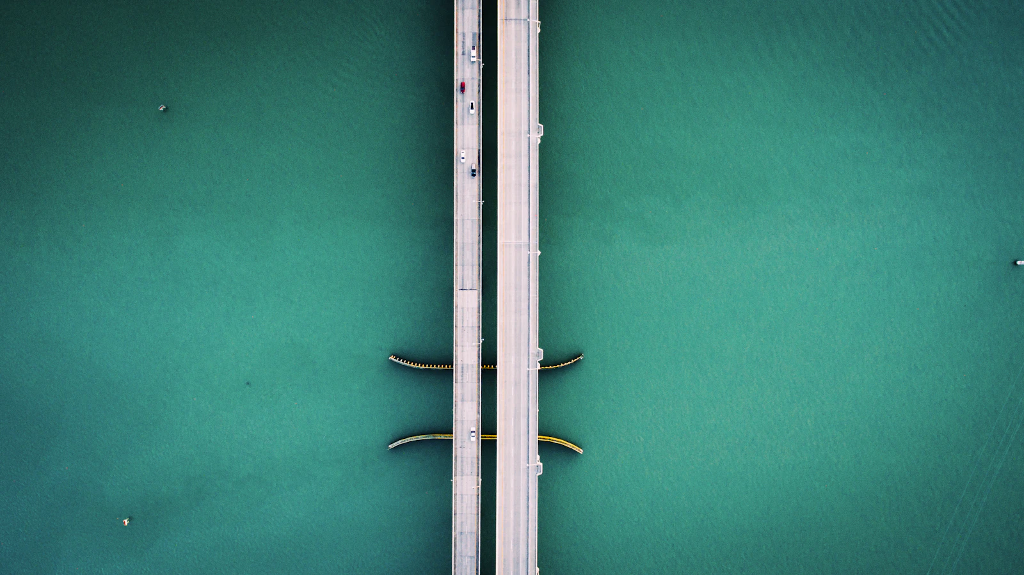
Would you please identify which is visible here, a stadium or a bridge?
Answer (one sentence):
There is a bridge in the scene.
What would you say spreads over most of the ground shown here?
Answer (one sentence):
The scene is dominated by water.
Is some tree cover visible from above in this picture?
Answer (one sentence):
No, tree cover can't be seen anywhere here.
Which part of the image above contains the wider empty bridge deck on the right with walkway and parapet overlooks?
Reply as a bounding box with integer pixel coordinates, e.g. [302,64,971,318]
[496,0,544,575]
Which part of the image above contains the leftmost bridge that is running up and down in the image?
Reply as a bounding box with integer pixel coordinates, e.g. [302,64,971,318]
[452,0,482,575]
